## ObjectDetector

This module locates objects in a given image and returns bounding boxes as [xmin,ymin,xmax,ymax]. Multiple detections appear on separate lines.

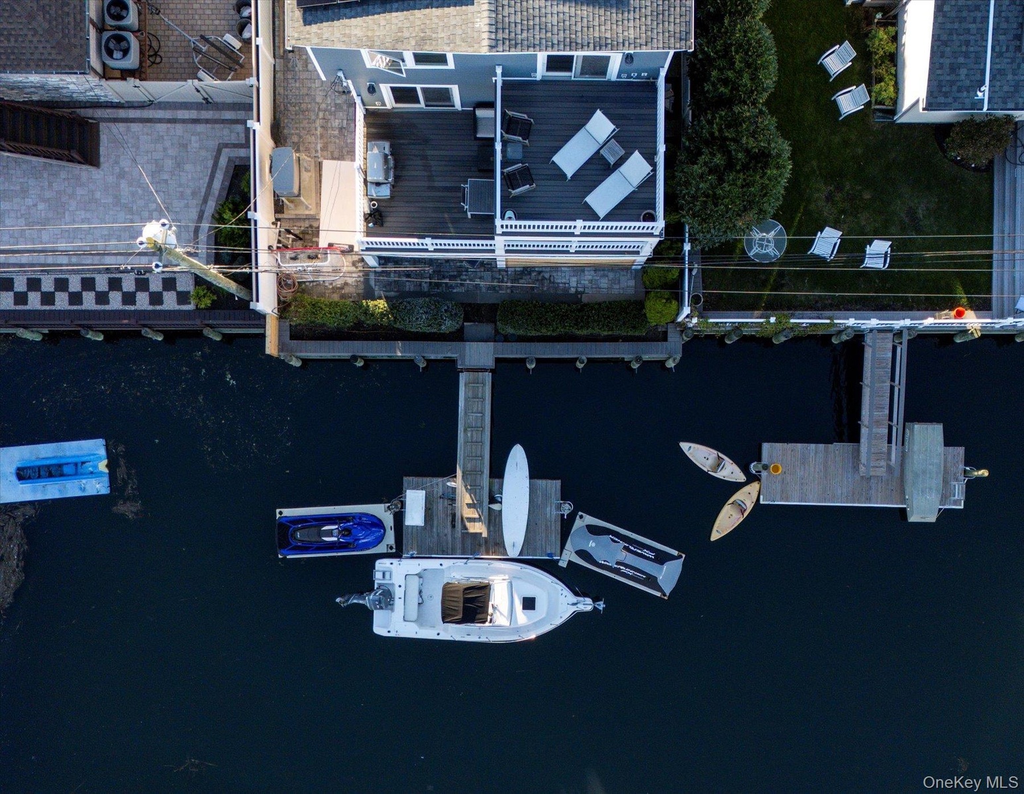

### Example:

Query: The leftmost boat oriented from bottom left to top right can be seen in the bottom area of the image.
[710,482,760,541]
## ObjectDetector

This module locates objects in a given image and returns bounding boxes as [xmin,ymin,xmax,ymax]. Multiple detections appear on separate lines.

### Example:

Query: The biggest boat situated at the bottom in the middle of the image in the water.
[337,558,605,643]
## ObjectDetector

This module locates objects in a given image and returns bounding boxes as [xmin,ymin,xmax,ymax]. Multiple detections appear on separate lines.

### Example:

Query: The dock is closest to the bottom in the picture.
[389,477,572,557]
